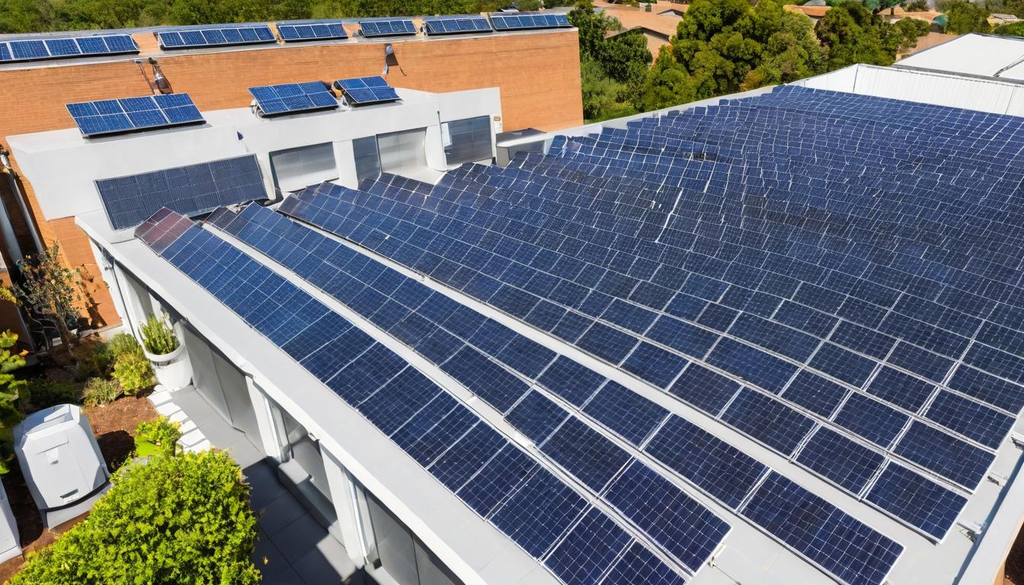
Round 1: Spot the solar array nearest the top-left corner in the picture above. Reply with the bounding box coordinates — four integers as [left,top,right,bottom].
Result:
[0,35,144,64]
